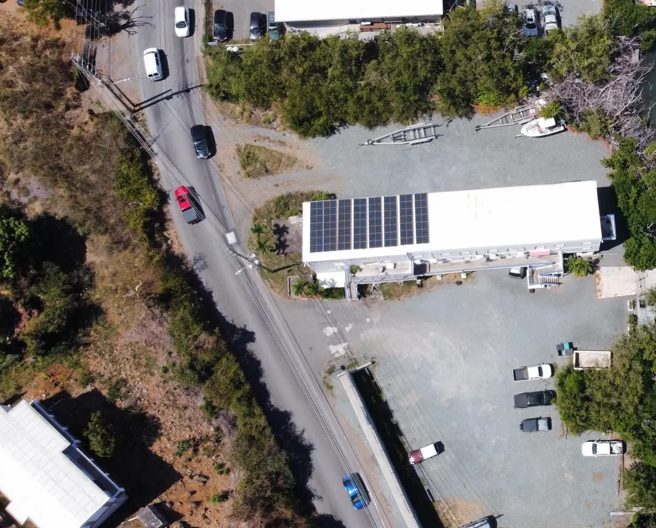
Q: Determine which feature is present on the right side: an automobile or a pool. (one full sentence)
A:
You can see an automobile on the right side.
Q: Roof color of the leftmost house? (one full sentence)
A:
The roof over the leftmost house appears white.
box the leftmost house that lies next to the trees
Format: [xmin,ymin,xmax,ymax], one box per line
[0,397,138,528]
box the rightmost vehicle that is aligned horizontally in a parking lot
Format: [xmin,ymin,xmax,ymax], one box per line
[580,439,624,458]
